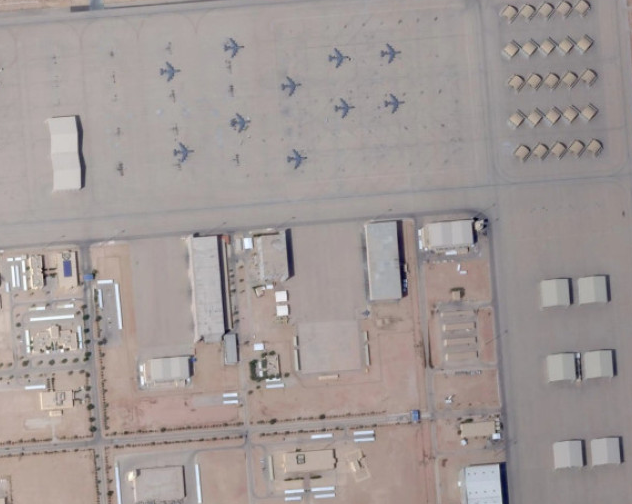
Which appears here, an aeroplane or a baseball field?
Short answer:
aeroplane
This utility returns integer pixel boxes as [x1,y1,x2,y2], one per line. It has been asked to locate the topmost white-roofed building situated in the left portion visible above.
[48,116,81,190]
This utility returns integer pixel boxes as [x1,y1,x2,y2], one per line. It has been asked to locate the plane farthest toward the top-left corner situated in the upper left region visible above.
[159,62,180,81]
